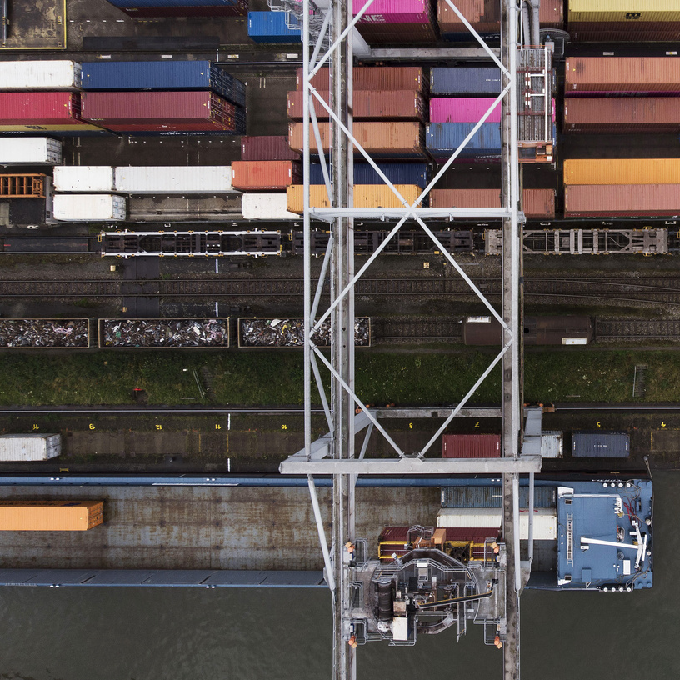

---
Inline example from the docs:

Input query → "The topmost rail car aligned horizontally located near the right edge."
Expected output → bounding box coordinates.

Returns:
[480,227,673,256]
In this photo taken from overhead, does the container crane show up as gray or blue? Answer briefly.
gray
